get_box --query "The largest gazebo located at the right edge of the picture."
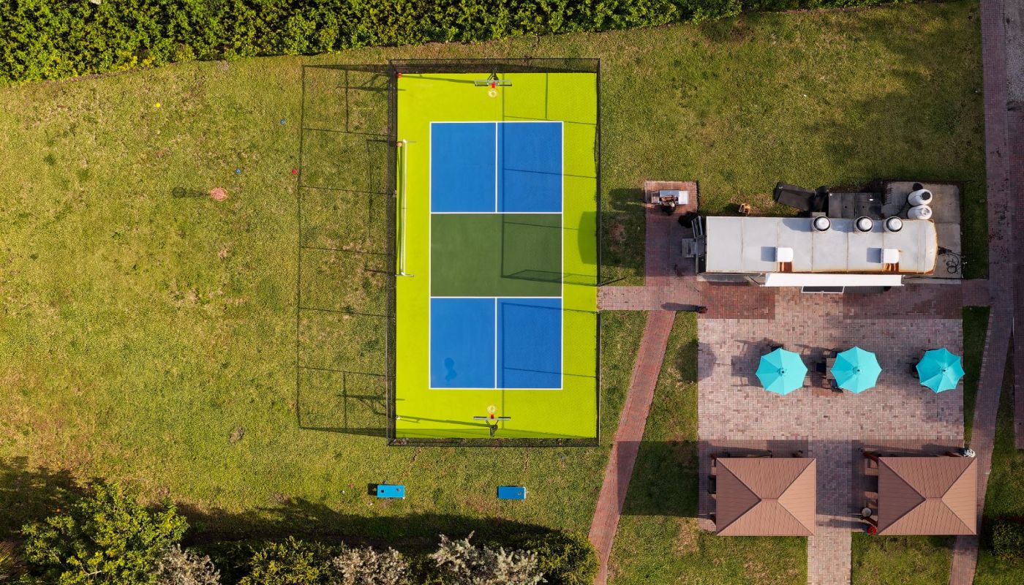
[862,451,978,536]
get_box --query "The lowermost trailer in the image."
[693,214,948,286]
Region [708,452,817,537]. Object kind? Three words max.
gazebo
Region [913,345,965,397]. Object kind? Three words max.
umbrella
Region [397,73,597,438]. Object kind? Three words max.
sports court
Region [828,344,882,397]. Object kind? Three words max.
umbrella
